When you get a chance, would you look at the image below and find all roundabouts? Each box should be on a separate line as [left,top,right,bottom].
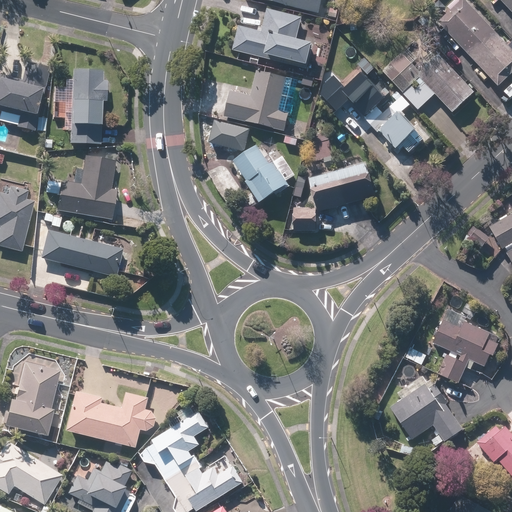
[234,296,316,378]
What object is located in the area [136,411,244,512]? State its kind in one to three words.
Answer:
house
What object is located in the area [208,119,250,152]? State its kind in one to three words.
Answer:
house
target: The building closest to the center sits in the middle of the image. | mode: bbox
[292,206,318,232]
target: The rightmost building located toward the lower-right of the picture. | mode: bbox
[476,414,512,480]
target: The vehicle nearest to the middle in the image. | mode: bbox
[253,264,268,277]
